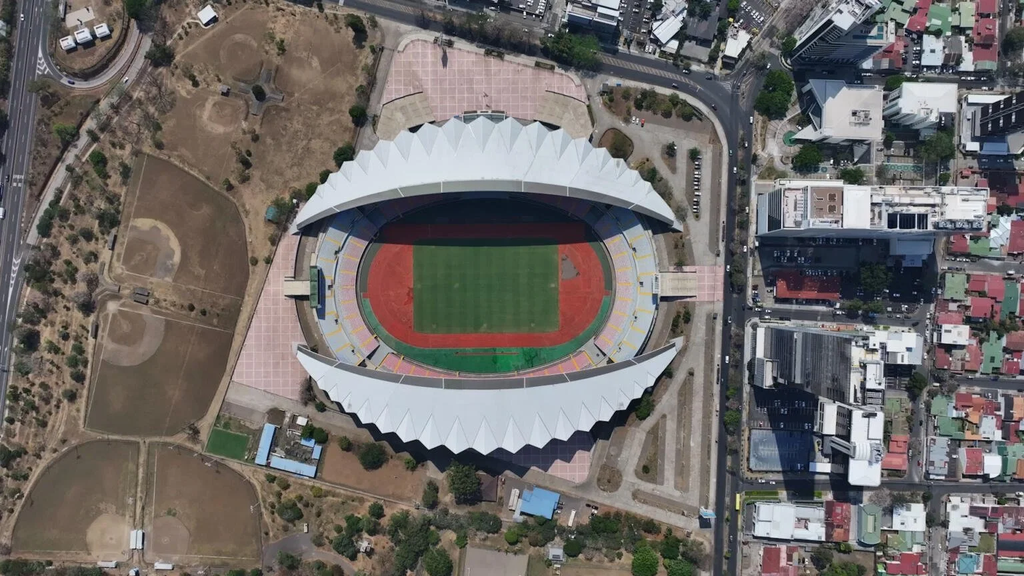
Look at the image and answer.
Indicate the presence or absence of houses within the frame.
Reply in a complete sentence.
Yes, I can see a house in this picture.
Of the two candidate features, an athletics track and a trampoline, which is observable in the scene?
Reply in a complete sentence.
This aerial view contains an athletics track.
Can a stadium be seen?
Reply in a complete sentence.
Yes, the photo shows a stadium.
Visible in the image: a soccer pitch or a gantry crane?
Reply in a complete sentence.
Of the two, only a soccer pitch appears.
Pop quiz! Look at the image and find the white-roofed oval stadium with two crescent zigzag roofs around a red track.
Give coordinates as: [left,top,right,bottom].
[285,90,696,455]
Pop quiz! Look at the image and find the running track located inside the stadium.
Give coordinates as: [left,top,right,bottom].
[368,223,611,348]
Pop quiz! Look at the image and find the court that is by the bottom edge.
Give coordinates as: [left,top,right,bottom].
[465,545,528,576]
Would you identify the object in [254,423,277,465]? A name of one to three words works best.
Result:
shed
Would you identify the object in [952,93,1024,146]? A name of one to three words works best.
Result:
building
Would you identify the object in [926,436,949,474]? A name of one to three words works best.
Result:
house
